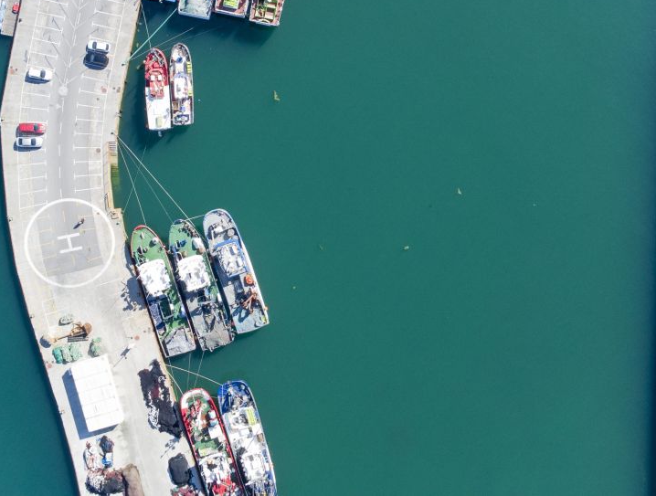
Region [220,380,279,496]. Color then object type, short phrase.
white boat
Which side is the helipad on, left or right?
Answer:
left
